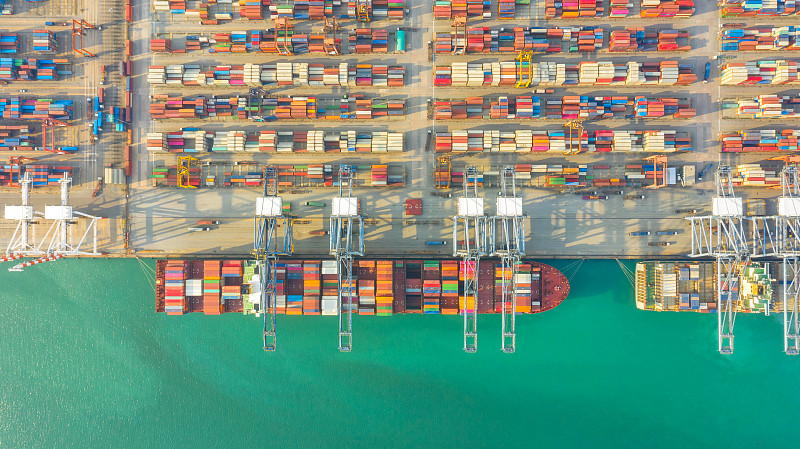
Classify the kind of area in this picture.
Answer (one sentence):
It's a port.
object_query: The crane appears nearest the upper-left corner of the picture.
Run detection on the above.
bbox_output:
[71,16,102,57]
